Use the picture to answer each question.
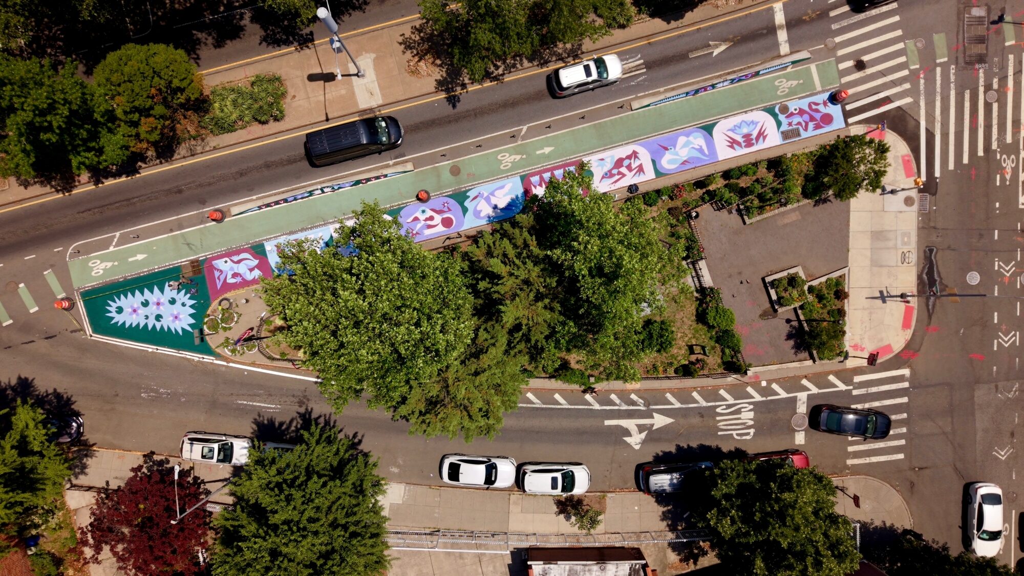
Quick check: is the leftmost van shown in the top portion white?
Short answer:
No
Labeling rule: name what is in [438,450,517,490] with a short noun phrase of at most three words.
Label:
car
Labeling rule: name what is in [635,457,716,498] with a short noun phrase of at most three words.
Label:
car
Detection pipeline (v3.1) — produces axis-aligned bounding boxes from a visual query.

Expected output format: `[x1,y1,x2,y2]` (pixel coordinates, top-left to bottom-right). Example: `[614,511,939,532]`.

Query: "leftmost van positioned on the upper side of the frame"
[304,113,407,166]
